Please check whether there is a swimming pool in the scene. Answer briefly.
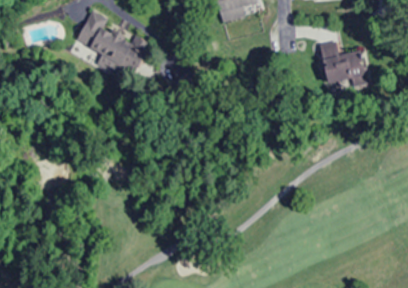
Yes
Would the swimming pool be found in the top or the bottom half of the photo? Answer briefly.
top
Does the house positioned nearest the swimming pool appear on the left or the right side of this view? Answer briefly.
left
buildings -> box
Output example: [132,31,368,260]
[219,0,264,22]
[320,42,370,88]
[73,7,148,73]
